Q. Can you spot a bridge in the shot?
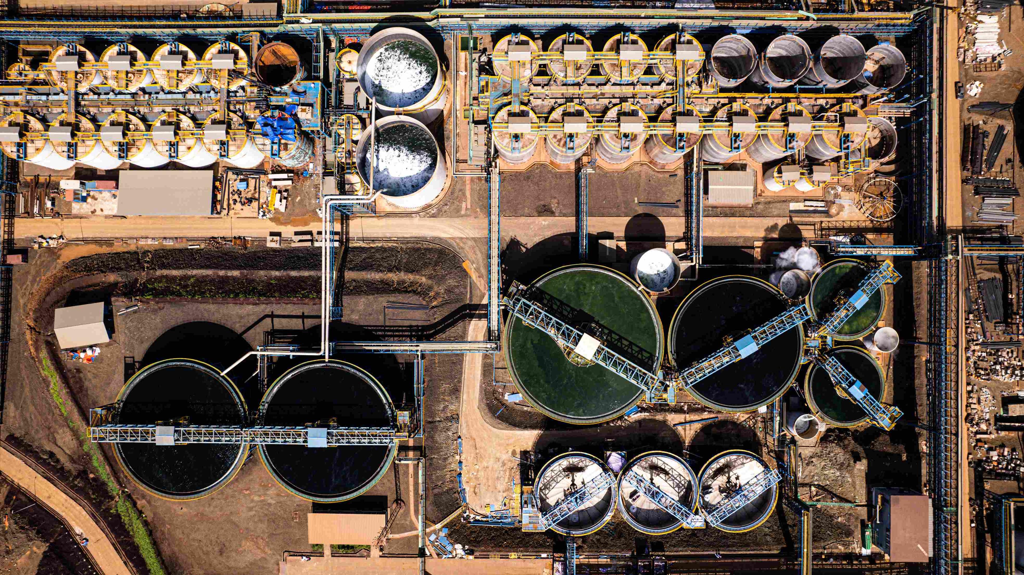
Yes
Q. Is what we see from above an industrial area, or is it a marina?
industrial area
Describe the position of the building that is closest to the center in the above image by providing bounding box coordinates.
[598,239,616,262]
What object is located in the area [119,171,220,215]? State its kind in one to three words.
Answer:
building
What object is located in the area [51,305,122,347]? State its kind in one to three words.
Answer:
building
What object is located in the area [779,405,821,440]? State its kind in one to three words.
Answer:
storage tank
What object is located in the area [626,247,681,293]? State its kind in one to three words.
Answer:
storage tank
